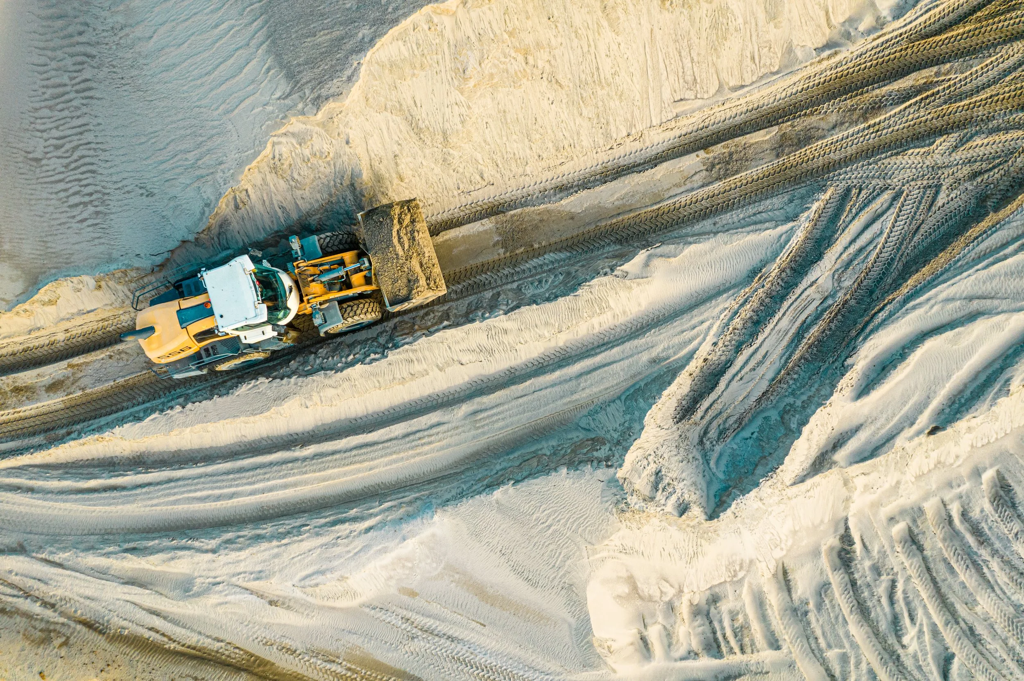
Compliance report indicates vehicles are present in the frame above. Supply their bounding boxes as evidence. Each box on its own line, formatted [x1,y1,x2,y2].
[121,200,447,379]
